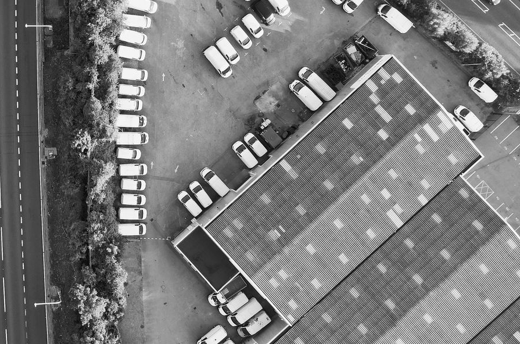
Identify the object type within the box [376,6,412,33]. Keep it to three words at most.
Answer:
vehicle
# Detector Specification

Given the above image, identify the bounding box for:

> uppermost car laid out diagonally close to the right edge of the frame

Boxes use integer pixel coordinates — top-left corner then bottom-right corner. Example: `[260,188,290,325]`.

[467,78,497,104]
